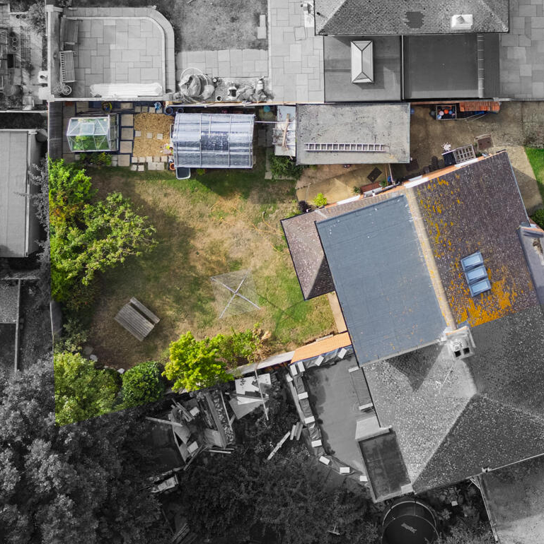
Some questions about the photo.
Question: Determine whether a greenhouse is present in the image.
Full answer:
Yes, you can see a greenhouse in this photo.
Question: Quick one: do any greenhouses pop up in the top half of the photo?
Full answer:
Yes, you'll find a greenhouse in the top half of the photo.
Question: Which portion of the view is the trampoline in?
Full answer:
Look in the bottom right portion of the view to spot the trampoline.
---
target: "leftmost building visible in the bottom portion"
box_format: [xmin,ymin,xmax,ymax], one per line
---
[210,384,237,447]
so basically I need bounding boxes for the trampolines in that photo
[382,497,439,544]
